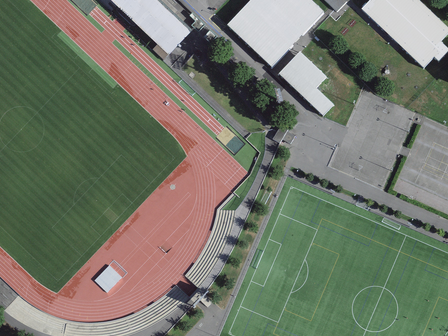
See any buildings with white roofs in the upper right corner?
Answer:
Yes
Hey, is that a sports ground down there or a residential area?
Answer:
sports ground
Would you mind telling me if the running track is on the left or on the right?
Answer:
left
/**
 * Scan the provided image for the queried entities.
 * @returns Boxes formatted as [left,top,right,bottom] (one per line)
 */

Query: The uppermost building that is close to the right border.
[362,0,448,68]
